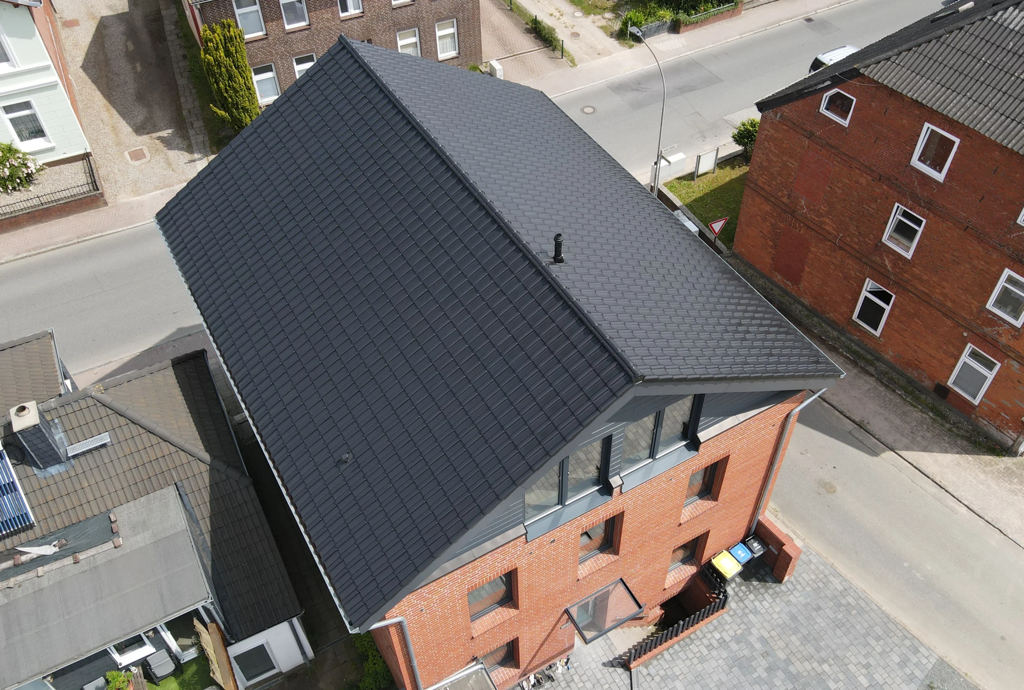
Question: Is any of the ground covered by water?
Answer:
No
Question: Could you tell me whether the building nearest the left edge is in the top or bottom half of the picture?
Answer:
top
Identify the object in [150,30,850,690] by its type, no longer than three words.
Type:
house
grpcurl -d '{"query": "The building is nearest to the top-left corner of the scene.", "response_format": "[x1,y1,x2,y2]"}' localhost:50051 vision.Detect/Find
[0,0,90,177]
